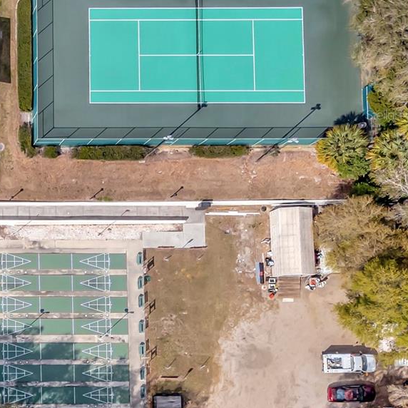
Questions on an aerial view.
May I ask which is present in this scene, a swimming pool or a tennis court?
tennis court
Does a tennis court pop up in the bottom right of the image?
No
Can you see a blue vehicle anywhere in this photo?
No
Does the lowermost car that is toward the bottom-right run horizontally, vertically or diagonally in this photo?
horizontally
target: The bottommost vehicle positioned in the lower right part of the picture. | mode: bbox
[329,382,379,405]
